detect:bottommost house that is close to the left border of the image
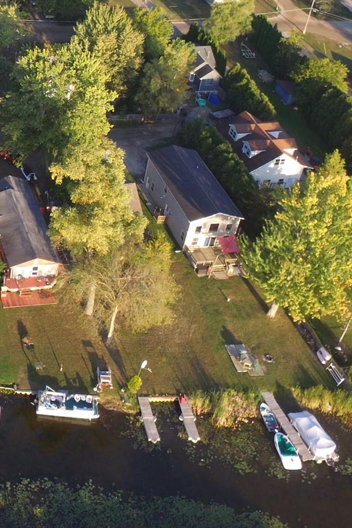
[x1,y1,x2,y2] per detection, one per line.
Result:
[0,175,69,311]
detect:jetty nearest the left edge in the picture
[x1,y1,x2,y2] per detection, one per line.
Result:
[137,397,161,445]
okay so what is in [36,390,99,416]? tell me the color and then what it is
white boat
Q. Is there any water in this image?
Yes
